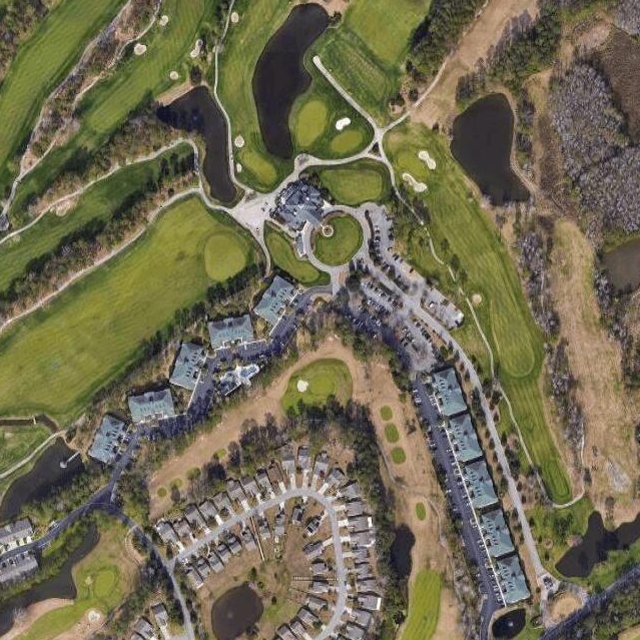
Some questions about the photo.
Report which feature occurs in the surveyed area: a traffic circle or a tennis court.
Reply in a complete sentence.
This aerial view contains a traffic circle.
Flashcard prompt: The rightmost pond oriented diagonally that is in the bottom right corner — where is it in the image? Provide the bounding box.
[555,512,640,577]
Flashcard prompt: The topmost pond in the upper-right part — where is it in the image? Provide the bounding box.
[449,92,532,205]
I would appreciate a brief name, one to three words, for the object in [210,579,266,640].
pond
